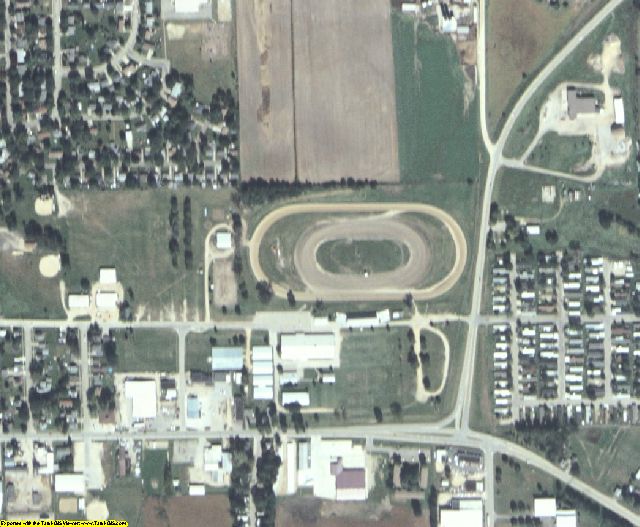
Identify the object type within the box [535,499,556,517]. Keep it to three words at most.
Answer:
building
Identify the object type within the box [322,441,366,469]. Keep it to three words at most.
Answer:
building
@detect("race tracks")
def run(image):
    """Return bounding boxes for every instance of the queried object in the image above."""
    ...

[249,203,467,301]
